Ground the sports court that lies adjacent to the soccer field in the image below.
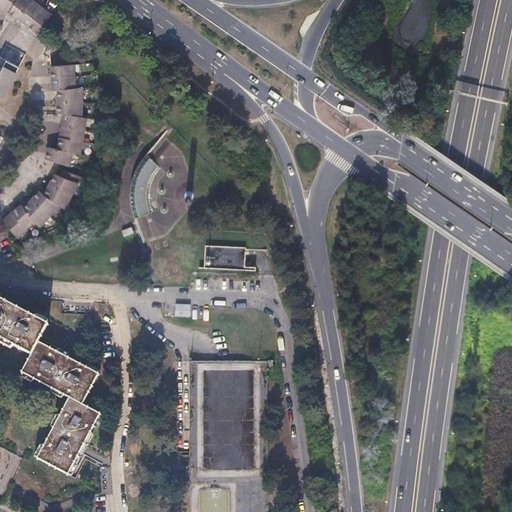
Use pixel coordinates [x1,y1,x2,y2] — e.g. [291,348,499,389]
[197,362,260,477]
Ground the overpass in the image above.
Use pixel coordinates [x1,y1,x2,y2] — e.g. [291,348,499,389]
[396,128,512,276]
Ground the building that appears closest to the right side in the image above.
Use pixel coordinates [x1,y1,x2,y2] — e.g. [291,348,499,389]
[199,246,266,272]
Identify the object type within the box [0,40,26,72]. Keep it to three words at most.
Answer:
swimming pool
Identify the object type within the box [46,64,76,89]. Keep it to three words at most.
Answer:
house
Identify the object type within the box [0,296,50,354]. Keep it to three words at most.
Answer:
building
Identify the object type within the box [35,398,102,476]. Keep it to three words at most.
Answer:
building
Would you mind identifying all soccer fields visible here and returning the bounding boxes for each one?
[191,483,236,512]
